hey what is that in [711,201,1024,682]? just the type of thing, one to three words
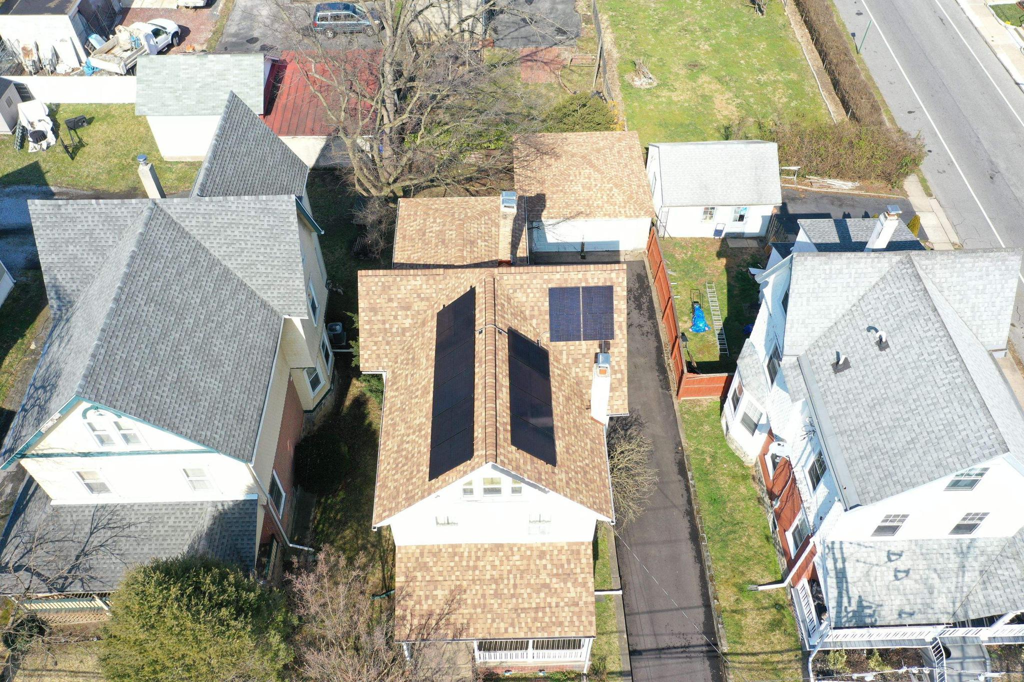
house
